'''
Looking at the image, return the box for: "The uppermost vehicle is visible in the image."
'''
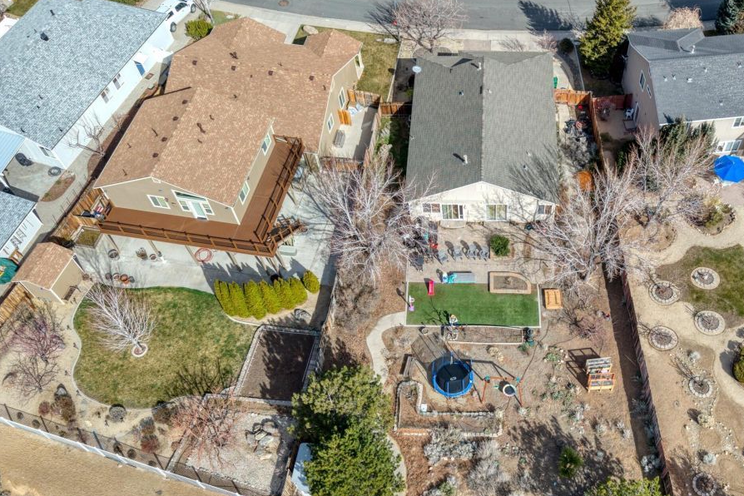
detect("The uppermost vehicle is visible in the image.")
[159,0,199,28]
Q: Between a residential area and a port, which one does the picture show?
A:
residential area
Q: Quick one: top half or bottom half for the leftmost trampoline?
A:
bottom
